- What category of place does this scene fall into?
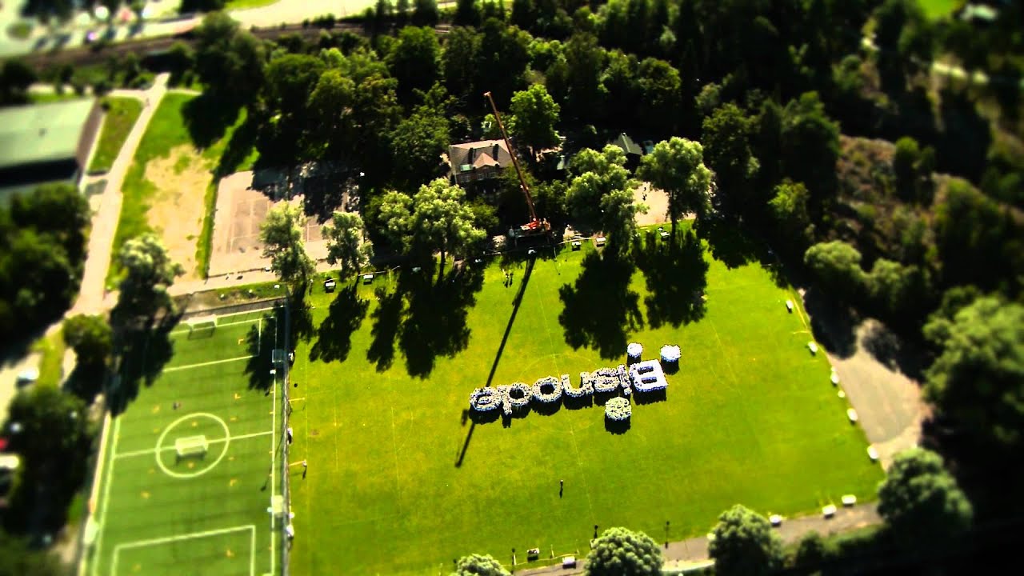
sports ground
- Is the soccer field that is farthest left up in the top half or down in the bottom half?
bottom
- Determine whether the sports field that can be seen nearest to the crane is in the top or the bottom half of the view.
bottom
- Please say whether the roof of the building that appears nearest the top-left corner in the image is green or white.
green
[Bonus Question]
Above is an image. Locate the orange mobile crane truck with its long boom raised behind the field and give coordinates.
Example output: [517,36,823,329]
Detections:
[479,90,560,247]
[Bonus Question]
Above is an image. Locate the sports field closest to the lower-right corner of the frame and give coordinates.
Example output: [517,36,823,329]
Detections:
[284,237,879,576]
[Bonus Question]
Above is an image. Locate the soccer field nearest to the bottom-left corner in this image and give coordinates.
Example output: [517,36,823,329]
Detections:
[80,305,283,576]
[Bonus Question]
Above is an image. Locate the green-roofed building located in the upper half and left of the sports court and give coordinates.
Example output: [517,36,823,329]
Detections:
[0,97,111,213]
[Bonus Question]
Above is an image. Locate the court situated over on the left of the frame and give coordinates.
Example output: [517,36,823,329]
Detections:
[207,158,370,277]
